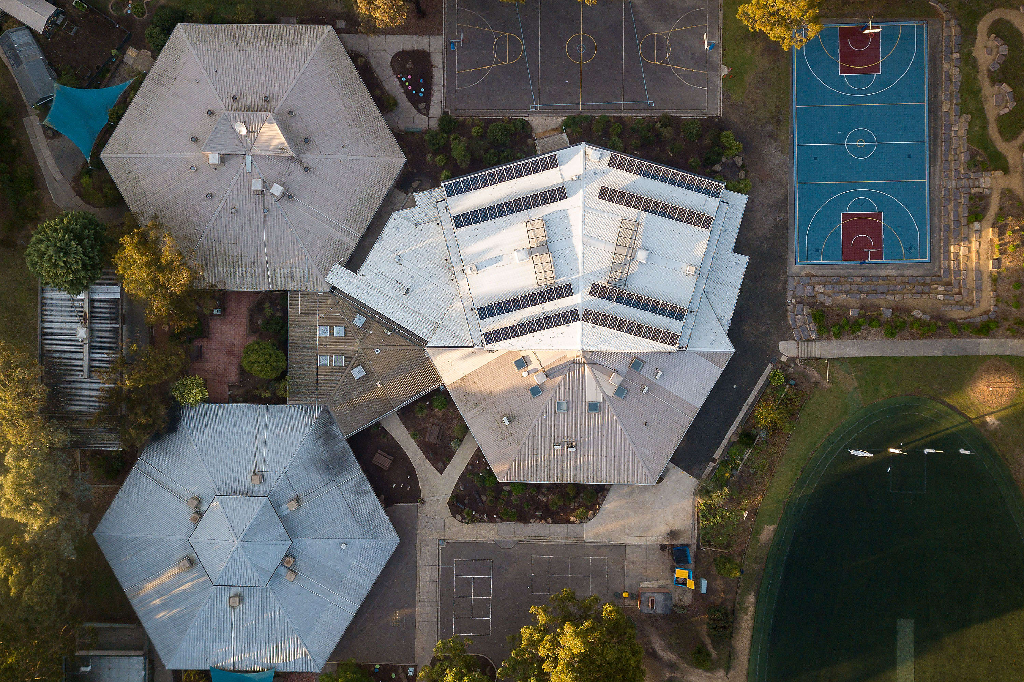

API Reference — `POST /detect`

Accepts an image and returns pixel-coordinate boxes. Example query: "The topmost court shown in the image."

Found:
[446,0,718,114]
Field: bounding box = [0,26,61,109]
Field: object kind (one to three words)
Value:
shed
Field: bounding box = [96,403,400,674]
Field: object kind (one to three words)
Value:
building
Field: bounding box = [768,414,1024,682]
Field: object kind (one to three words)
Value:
sports field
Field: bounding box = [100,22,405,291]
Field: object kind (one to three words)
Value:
building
